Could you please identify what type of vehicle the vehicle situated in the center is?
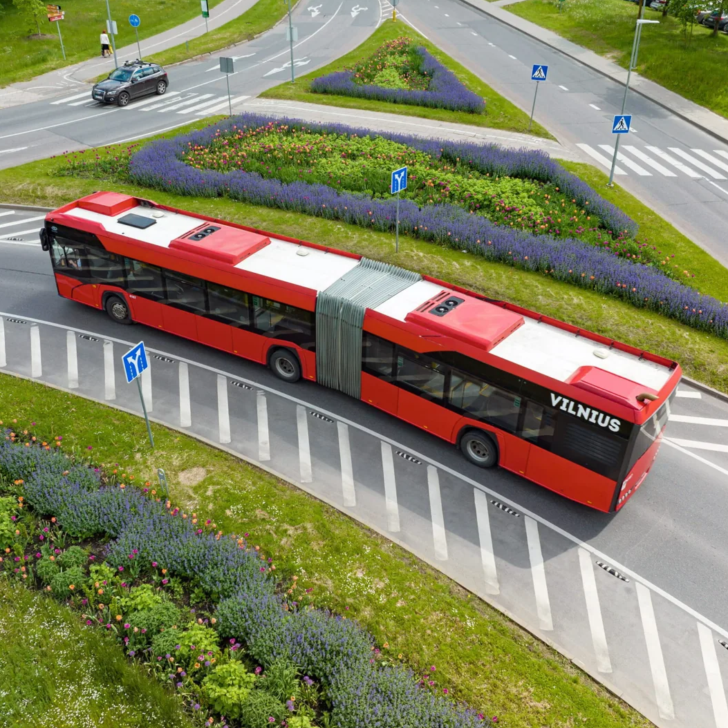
bus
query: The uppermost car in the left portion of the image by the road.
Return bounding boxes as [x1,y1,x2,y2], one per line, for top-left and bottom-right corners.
[87,58,167,107]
